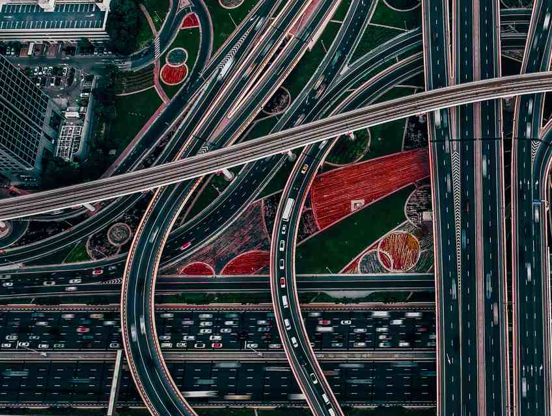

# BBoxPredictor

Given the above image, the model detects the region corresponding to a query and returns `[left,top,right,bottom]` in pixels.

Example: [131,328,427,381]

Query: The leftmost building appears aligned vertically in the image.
[0,58,55,175]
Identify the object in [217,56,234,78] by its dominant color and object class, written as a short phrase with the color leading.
white vehicle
